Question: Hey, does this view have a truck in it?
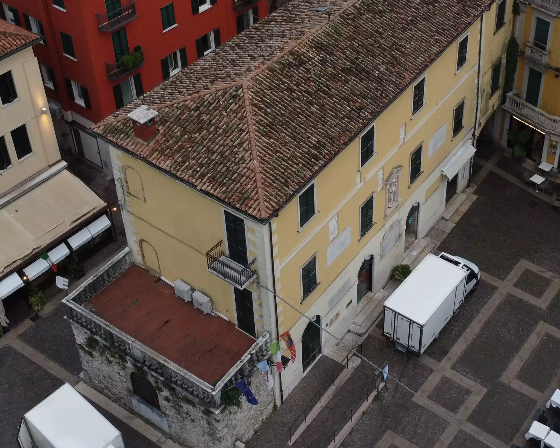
Yes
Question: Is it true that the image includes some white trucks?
Yes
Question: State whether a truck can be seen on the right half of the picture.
Yes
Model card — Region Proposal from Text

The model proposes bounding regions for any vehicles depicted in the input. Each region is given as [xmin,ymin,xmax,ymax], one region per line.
[382,249,483,357]
[13,383,125,448]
